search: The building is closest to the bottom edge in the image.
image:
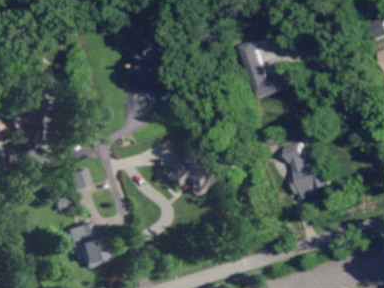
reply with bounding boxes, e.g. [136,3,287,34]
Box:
[68,223,113,270]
